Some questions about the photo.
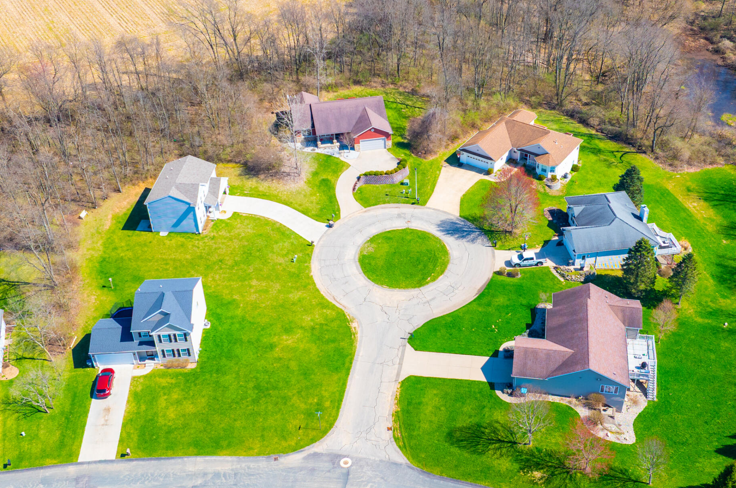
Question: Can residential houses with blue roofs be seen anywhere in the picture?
Yes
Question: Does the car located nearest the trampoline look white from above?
No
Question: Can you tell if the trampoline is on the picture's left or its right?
left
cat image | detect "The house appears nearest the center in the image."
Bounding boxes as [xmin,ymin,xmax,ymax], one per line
[289,91,392,151]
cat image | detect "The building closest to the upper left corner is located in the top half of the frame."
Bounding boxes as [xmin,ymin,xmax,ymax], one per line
[137,154,227,236]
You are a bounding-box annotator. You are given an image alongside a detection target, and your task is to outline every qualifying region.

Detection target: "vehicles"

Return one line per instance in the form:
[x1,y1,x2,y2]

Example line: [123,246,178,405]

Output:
[93,368,113,397]
[509,250,549,268]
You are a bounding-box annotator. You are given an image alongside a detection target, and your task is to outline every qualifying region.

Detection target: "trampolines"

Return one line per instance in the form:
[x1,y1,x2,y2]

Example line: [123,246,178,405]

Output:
[108,298,133,318]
